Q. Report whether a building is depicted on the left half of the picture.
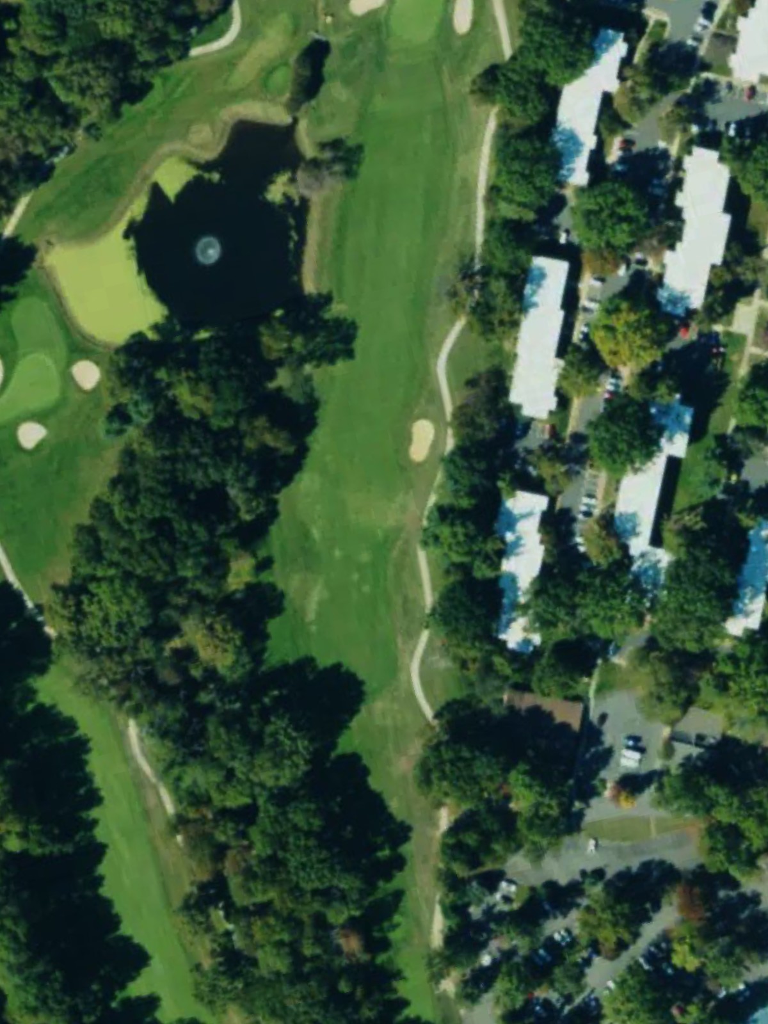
No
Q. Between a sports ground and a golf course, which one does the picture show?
golf course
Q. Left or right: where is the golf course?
left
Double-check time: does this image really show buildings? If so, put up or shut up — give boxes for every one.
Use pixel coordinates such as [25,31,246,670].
[725,515,768,636]
[500,490,549,651]
[751,1003,768,1024]
[556,31,628,186]
[670,708,724,748]
[615,407,694,597]
[510,257,569,419]
[500,690,584,742]
[728,0,768,84]
[657,147,731,315]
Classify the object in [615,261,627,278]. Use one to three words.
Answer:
vehicle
